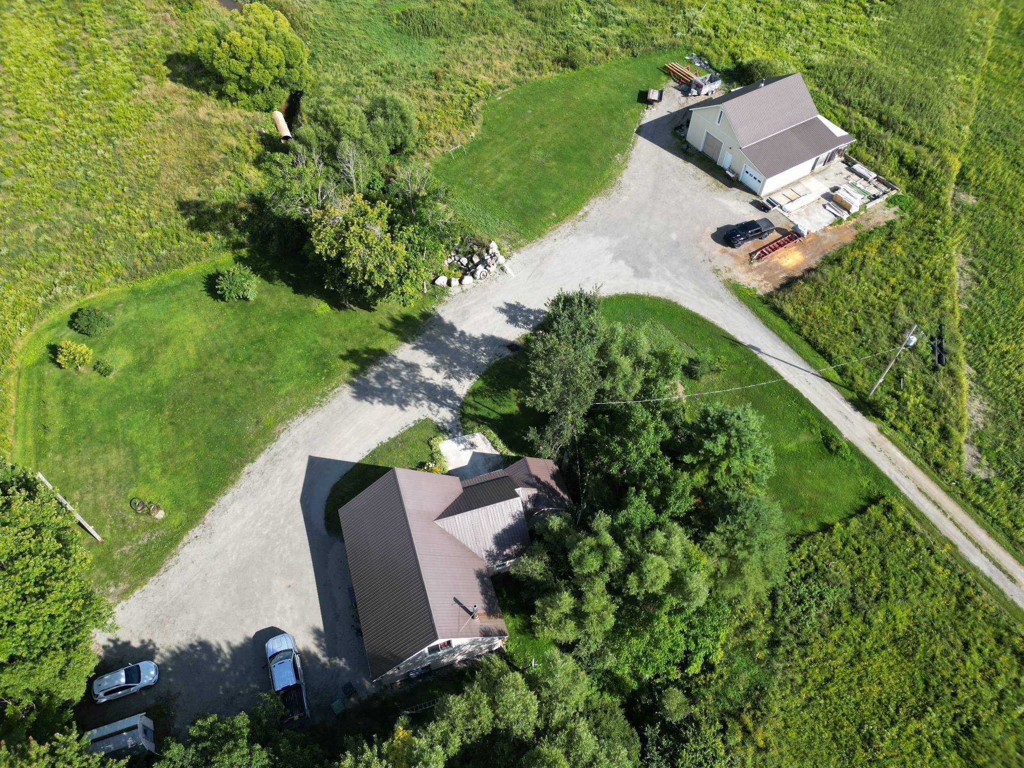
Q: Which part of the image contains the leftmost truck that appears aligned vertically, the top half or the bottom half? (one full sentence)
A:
It is in the bottom half that the leftmost truck that appears aligned vertically appears.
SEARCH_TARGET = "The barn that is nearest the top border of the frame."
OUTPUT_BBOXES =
[686,72,853,194]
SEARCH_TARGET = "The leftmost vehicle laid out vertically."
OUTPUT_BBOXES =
[263,626,313,728]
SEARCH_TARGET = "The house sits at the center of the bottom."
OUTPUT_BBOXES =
[340,456,574,686]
